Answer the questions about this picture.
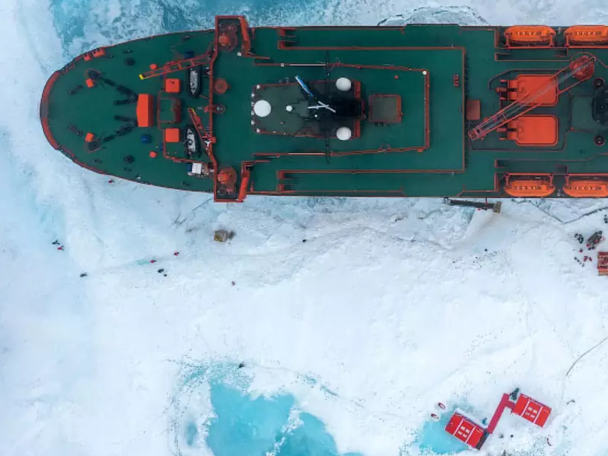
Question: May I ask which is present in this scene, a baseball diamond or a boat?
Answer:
boat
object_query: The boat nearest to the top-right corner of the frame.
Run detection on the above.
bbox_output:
[563,26,608,46]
